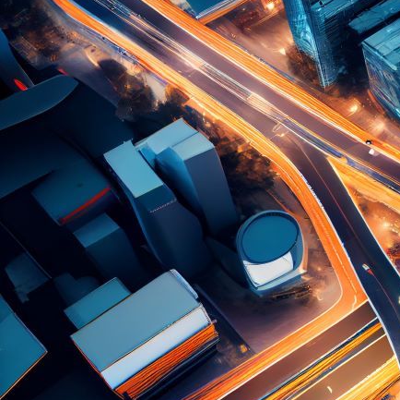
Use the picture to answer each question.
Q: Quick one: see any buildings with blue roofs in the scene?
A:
Yes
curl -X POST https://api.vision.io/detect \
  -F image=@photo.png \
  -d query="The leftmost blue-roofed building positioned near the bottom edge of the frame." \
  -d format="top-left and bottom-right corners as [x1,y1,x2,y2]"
[0,295,65,400]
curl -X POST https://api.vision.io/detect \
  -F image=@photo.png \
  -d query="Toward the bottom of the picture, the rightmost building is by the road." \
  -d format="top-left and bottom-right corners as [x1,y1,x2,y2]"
[235,206,314,292]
